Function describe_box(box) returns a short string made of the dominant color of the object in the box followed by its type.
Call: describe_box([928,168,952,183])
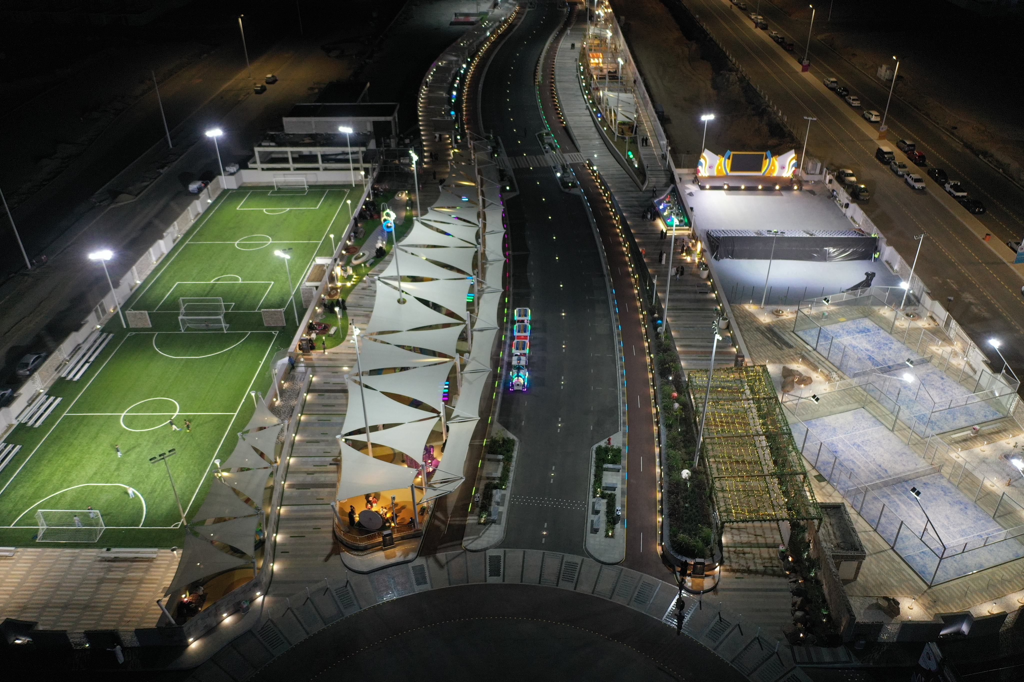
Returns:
black car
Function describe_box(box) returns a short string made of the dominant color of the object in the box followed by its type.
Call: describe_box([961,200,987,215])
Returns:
black car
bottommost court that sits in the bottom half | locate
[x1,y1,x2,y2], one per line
[774,367,1024,587]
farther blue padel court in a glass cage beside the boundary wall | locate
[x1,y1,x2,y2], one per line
[794,278,1024,440]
